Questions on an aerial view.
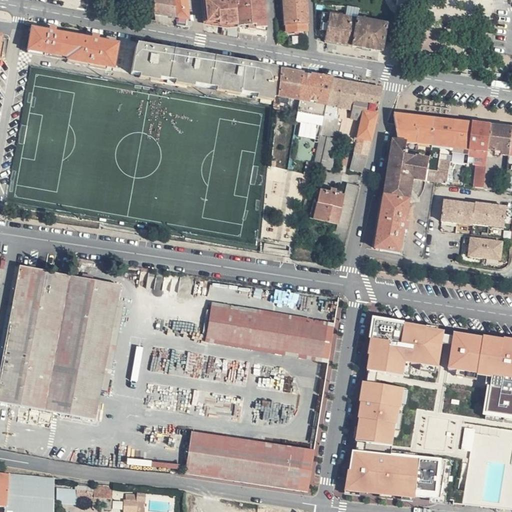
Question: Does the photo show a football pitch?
Yes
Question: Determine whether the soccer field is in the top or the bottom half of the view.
top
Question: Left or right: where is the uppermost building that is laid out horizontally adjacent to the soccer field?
left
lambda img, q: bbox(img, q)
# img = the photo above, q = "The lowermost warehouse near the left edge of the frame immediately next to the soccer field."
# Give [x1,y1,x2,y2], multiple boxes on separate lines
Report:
[0,265,120,425]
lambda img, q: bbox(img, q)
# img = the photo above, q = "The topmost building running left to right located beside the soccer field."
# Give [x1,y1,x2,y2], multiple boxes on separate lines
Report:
[28,22,120,69]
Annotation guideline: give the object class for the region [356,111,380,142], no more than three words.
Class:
house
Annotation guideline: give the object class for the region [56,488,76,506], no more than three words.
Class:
shed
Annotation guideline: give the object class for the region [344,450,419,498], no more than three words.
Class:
building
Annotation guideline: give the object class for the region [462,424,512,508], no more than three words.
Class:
swimming pool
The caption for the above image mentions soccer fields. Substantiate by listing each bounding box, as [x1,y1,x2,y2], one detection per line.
[7,66,273,250]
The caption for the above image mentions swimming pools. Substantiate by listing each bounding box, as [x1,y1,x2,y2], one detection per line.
[462,424,512,508]
[144,494,176,512]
